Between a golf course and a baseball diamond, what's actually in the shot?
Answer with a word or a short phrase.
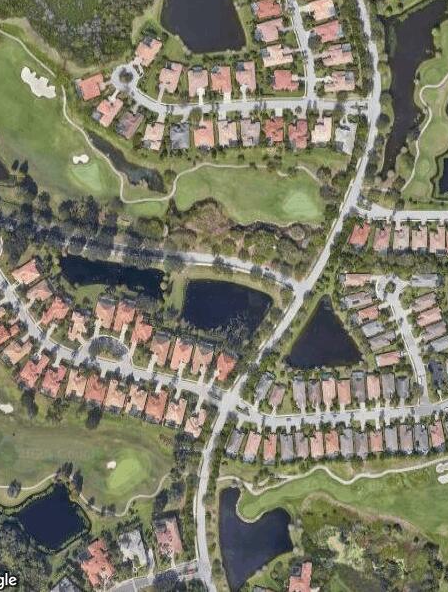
golf course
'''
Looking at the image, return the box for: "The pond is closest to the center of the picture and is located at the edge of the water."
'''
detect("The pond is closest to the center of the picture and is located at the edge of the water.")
[182,278,273,338]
